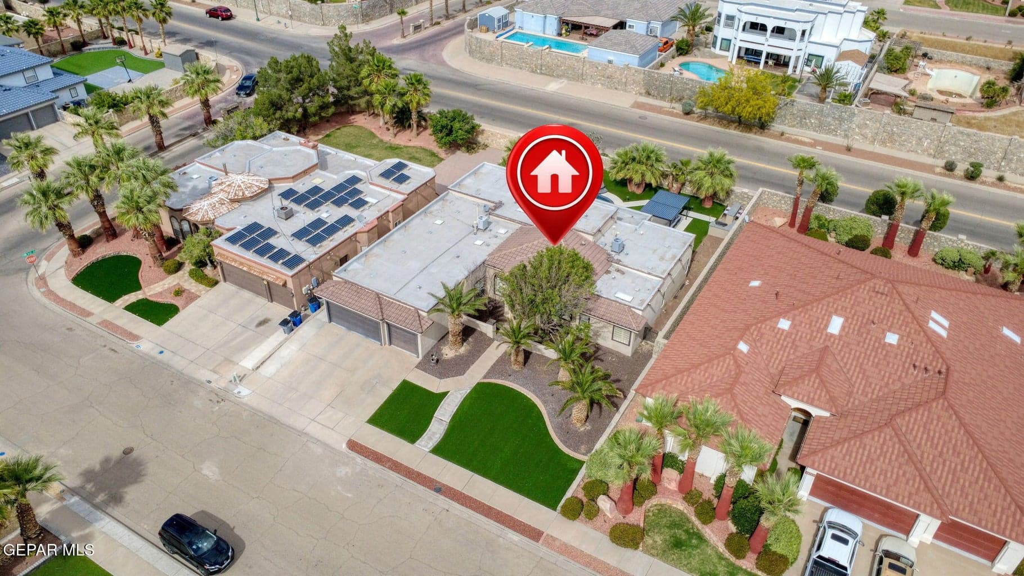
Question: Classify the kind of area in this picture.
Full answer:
The picture captures a residential area.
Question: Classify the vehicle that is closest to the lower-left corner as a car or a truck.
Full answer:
Looking closely, the vehicle that is closest to the lower-left corner is a car.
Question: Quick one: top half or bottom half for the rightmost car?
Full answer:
It is in the bottom half that the rightmost car appears.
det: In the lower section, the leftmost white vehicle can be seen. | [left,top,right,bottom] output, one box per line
[812,508,869,576]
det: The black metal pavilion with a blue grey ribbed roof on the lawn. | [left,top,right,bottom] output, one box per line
[640,188,690,227]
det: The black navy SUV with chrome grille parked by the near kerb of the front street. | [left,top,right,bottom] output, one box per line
[156,508,237,572]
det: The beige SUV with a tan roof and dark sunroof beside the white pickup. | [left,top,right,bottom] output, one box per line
[878,534,928,576]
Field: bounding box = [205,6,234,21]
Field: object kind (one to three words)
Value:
car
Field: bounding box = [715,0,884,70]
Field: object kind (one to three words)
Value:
house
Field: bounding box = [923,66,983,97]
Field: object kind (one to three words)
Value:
swimming pool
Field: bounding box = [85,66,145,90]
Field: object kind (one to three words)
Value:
sports court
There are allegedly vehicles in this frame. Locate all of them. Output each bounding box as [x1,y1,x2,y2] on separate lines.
[205,6,234,21]
[156,508,237,572]
[812,508,869,576]
[655,37,684,57]
[235,77,265,98]
[878,534,928,576]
